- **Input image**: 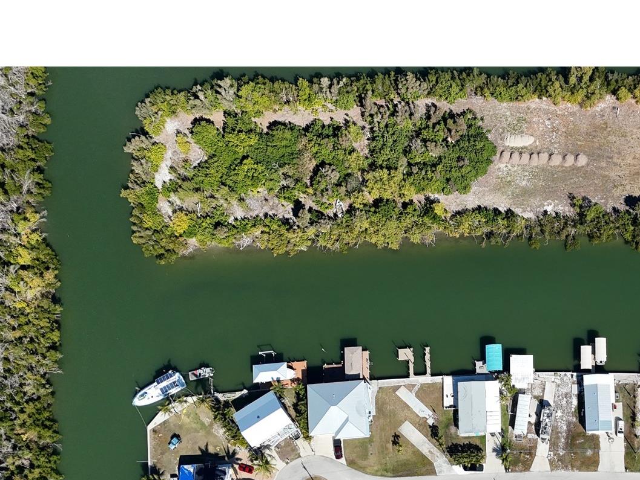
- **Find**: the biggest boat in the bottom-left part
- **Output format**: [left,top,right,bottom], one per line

[128,371,185,404]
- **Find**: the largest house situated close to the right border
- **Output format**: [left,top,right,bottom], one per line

[583,374,615,433]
